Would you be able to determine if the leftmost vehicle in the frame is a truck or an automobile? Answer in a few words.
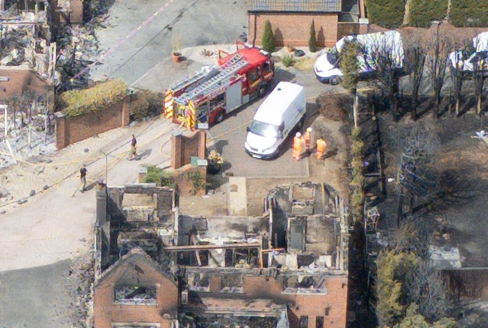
truck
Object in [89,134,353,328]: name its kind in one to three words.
house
